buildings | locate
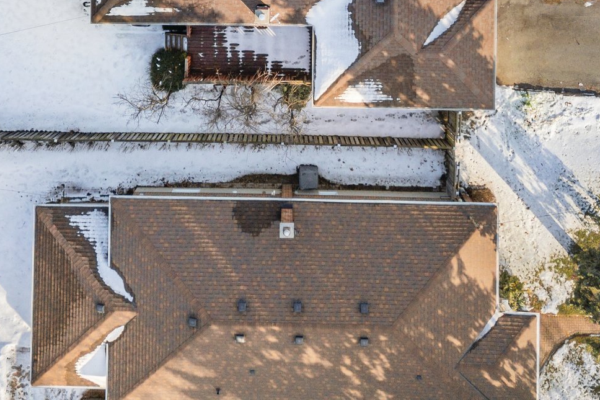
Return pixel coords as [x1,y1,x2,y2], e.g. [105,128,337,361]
[90,0,498,112]
[29,177,541,400]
